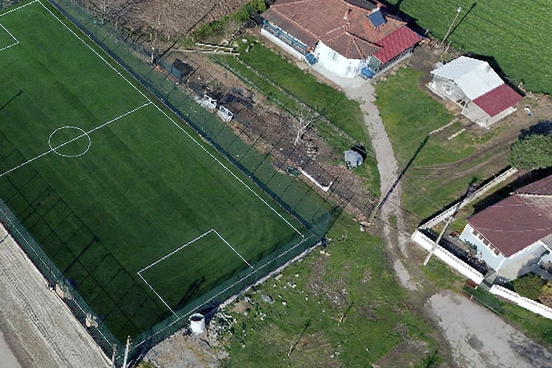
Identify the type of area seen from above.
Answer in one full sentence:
This looks like a sports ground.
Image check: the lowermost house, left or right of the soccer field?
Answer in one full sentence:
Looking at the photo, the lowermost house lies to the right of the soccer field.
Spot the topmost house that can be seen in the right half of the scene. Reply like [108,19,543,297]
[258,0,421,80]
